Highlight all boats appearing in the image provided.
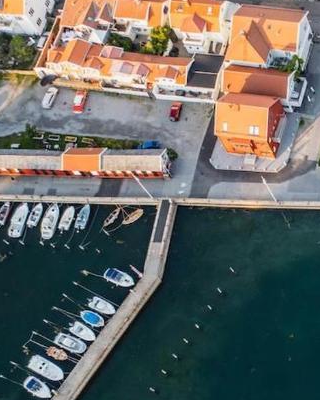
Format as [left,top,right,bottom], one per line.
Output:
[0,204,11,227]
[27,204,44,228]
[23,354,67,380]
[101,267,135,288]
[103,206,121,229]
[58,205,76,232]
[45,348,71,362]
[86,297,115,316]
[51,333,88,354]
[123,207,145,225]
[79,311,106,328]
[9,203,30,237]
[19,376,54,399]
[66,321,96,342]
[40,203,61,240]
[76,205,91,231]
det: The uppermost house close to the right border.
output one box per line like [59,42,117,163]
[219,8,316,76]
